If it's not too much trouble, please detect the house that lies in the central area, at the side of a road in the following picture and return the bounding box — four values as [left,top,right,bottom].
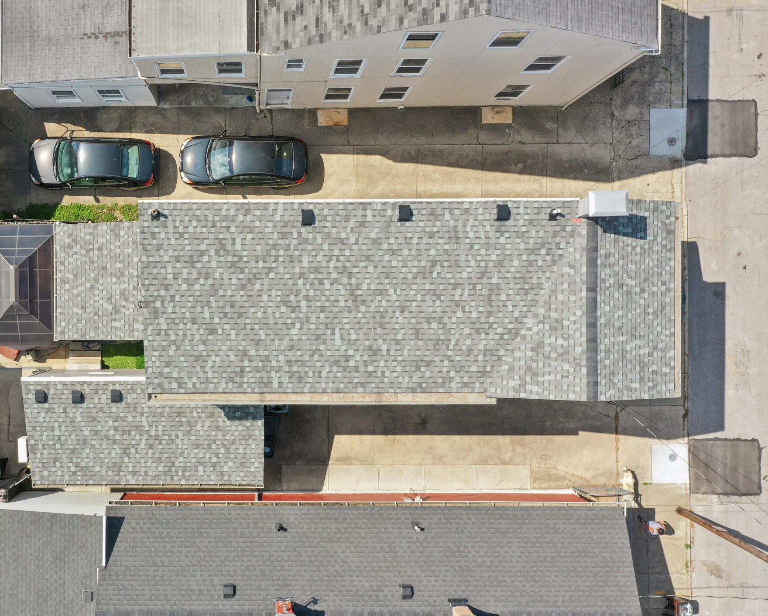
[21,191,682,487]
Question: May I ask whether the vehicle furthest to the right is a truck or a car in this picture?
car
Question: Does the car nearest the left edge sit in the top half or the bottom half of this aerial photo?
top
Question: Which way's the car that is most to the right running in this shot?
from side to side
